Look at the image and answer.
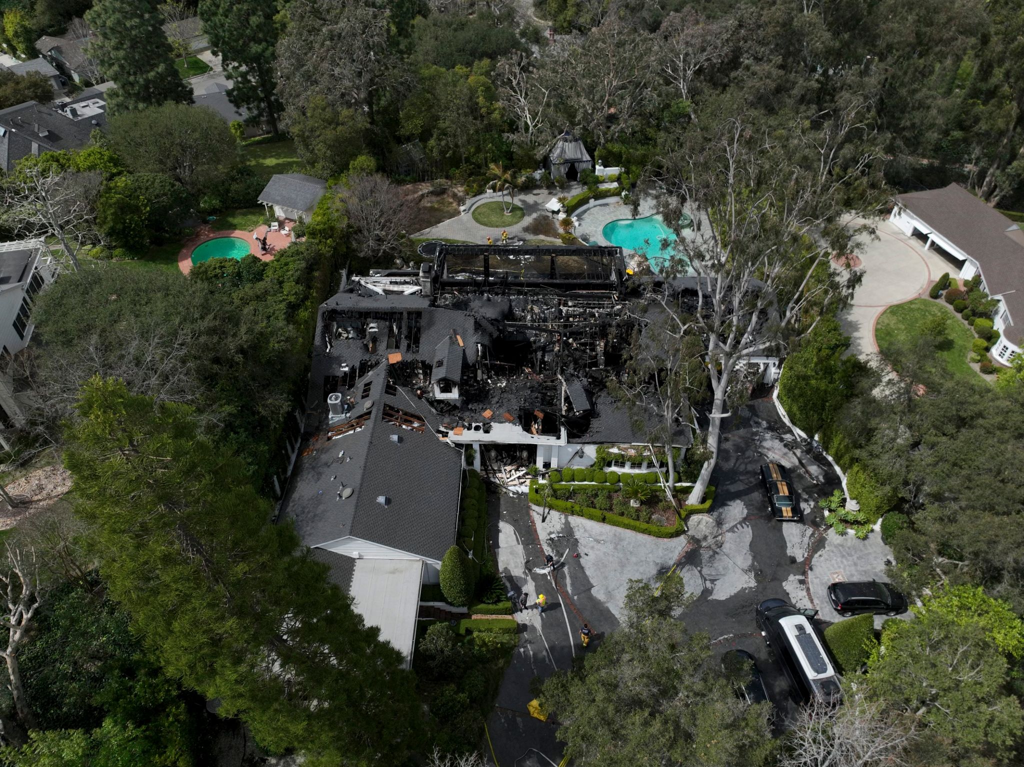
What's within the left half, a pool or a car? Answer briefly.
pool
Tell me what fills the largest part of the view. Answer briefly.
trees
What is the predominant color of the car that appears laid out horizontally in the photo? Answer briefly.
black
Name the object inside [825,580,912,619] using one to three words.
car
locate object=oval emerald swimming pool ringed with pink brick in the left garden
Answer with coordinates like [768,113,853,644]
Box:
[186,235,254,276]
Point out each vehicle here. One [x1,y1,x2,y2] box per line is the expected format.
[722,654,788,742]
[804,434,820,449]
[759,463,802,522]
[825,580,912,619]
[757,595,849,731]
